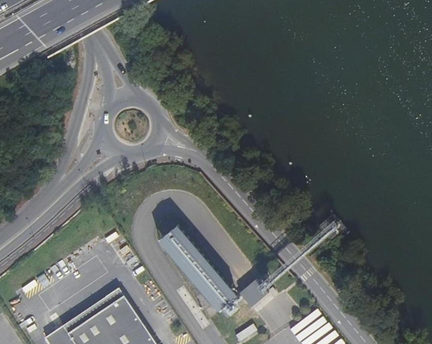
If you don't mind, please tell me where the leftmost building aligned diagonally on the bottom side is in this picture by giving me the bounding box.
[158,224,244,318]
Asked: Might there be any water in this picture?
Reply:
Yes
